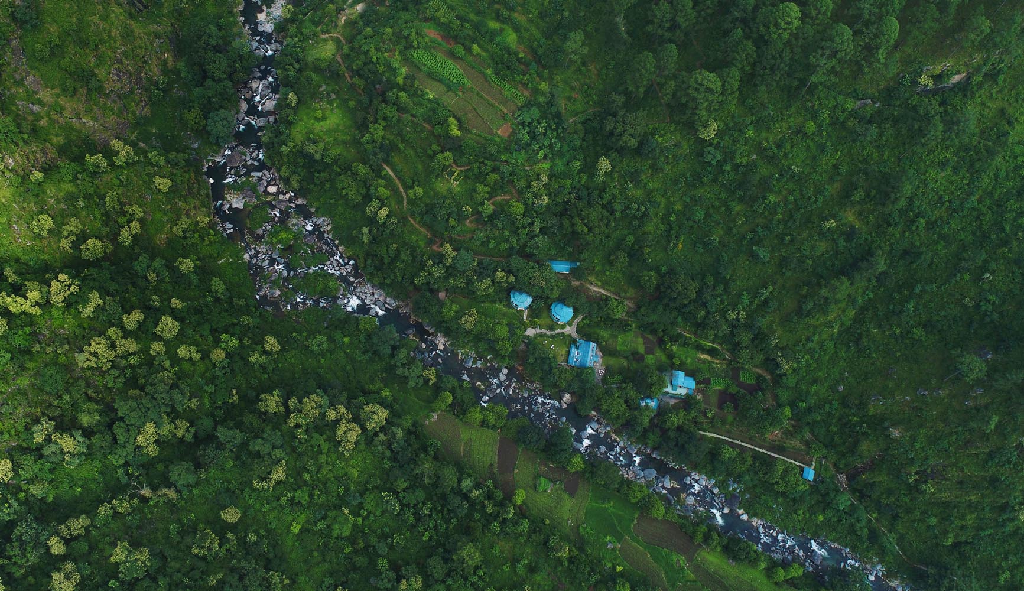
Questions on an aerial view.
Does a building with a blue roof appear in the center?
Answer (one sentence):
Yes, you'll find a building with a blue roof in the center.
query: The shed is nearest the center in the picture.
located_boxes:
[510,290,531,316]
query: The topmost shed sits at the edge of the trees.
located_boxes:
[548,261,580,274]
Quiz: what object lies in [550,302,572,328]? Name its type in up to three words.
shed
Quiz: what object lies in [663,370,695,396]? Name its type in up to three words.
house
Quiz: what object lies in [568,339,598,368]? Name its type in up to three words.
house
